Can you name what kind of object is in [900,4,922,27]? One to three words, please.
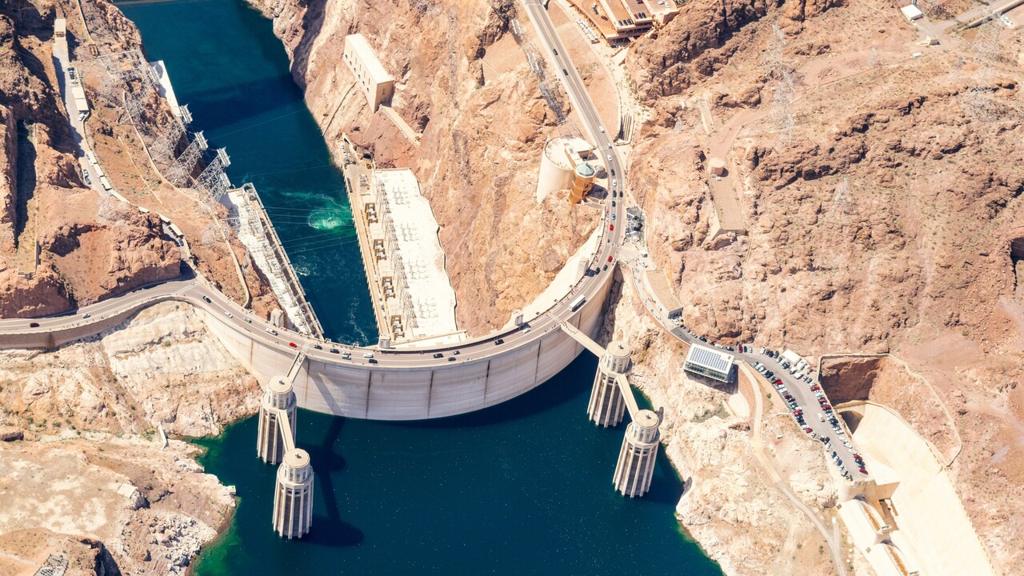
shed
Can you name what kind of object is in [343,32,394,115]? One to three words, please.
building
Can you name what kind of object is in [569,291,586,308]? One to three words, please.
vehicle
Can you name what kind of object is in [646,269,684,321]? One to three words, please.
building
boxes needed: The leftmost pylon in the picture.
[94,184,116,222]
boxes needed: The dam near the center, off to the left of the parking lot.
[194,245,621,422]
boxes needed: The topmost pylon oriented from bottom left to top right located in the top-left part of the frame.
[156,97,196,156]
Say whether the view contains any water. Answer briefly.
Yes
